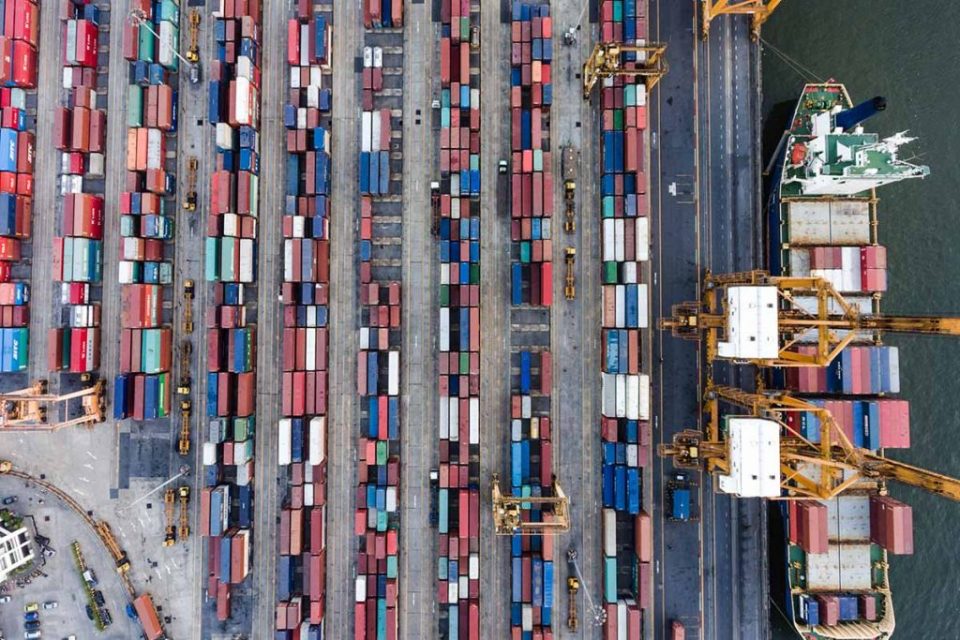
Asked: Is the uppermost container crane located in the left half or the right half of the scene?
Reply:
right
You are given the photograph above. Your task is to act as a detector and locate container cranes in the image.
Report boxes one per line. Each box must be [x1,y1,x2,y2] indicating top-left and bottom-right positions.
[488,476,573,528]
[580,41,673,103]
[0,386,103,426]
[652,267,960,379]
[653,379,960,499]
[706,0,790,54]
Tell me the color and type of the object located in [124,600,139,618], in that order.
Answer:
blue vehicle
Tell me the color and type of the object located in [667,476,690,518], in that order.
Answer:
blue truck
